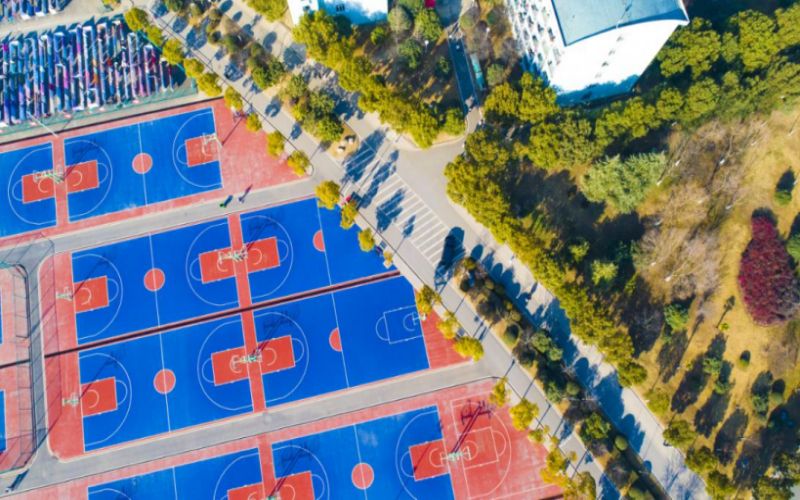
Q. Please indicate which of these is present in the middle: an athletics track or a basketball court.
basketball court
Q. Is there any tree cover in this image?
Yes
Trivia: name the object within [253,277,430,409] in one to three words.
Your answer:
basketball court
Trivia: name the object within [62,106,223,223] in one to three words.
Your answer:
basketball court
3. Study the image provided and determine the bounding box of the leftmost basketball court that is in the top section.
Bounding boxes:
[0,141,56,238]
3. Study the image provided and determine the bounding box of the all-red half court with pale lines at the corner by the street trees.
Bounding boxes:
[449,390,562,500]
